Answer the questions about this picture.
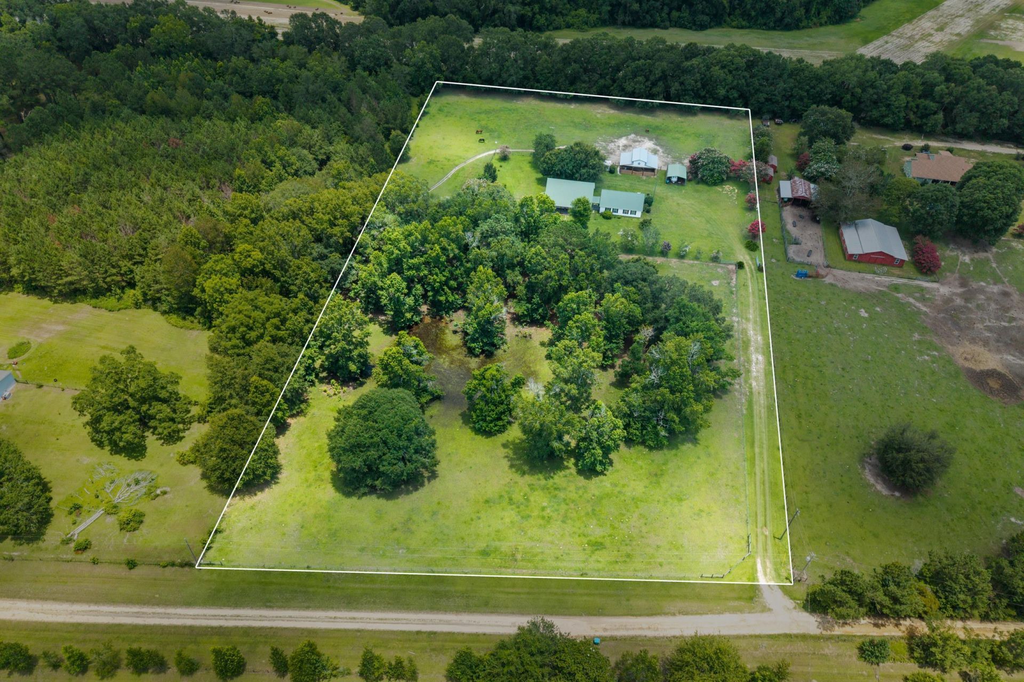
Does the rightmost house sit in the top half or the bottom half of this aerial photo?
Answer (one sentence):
The top half of the photo is where the rightmost house is.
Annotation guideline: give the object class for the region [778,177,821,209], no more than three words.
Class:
barn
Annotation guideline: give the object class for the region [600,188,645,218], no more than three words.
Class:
house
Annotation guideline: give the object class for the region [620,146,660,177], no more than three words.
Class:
barn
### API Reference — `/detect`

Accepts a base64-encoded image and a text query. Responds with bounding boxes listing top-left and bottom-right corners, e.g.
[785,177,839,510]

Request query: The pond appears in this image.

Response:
[416,318,484,371]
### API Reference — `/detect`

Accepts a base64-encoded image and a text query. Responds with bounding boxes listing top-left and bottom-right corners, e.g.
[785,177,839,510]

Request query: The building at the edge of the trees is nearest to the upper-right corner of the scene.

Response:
[903,142,974,189]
